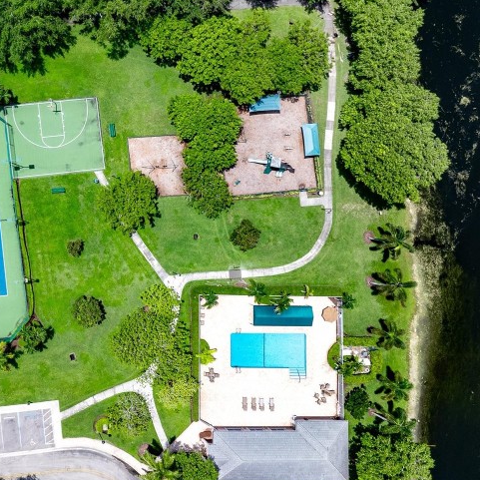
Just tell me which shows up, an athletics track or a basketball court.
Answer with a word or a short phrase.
basketball court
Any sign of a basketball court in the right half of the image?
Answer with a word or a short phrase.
No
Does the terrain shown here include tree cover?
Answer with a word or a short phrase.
Yes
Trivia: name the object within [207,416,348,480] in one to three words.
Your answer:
building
